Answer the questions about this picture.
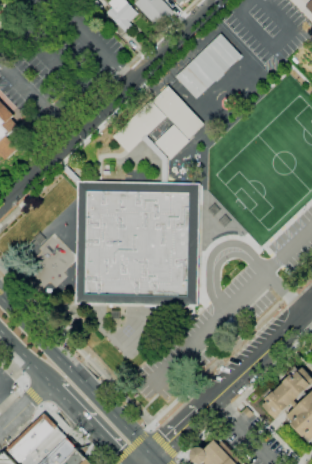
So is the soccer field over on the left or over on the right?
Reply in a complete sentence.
The soccer field sits on the right side.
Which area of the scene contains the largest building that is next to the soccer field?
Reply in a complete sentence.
You can find the largest building that is next to the soccer field in the center area of the picture.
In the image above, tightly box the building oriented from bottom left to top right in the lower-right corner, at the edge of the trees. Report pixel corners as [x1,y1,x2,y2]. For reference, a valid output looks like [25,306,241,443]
[264,368,312,418]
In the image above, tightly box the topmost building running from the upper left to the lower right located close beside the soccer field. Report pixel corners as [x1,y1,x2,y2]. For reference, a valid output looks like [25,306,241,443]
[154,86,204,140]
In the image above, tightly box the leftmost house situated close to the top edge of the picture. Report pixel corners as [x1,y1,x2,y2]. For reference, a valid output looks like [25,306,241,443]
[108,0,139,32]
